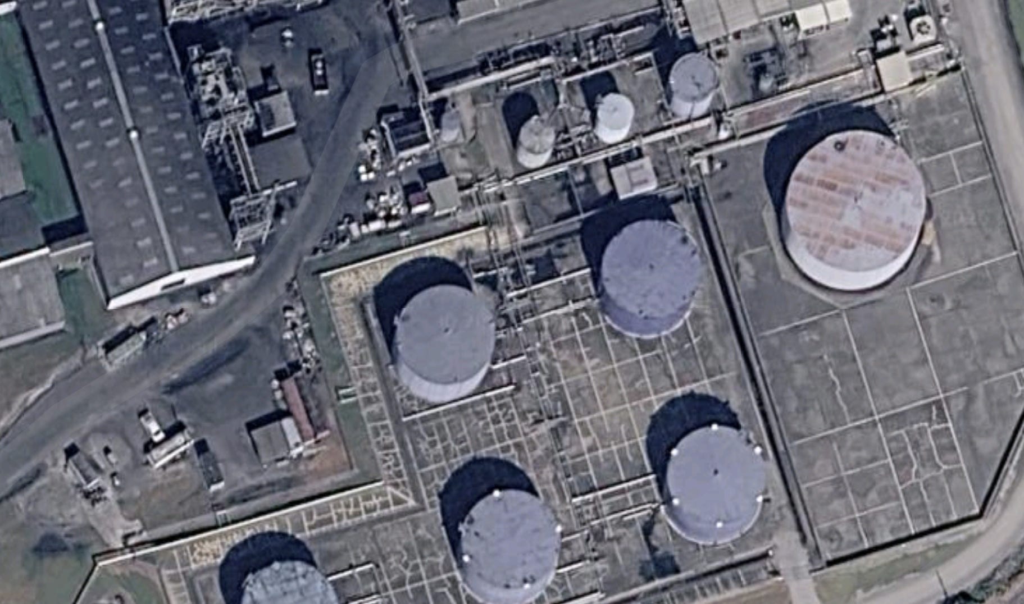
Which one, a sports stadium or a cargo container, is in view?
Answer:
cargo container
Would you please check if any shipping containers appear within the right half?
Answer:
No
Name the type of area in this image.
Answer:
industrial area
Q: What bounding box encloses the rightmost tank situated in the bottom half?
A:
[658,424,766,545]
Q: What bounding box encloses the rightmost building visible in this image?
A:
[876,52,913,95]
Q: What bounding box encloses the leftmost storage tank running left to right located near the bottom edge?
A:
[239,560,339,604]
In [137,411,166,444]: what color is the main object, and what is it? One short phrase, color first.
white truck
